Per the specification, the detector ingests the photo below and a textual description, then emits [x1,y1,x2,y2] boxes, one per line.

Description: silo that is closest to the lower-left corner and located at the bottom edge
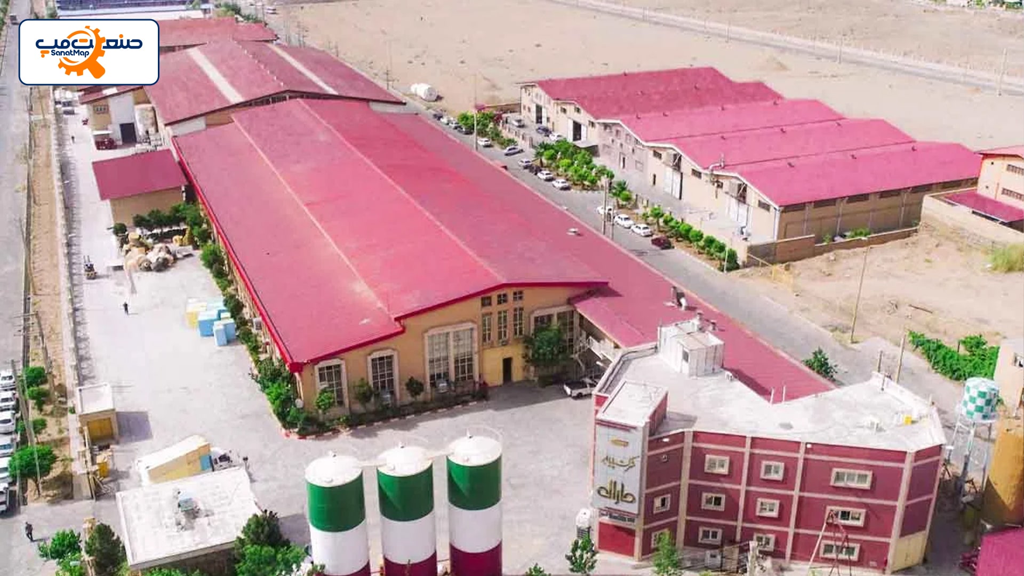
[306,450,369,576]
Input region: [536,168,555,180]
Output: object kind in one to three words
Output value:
vehicle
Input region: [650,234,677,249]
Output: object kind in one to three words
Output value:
car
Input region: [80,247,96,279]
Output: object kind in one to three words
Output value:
work vehicle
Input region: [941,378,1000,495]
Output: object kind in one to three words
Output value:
water tower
